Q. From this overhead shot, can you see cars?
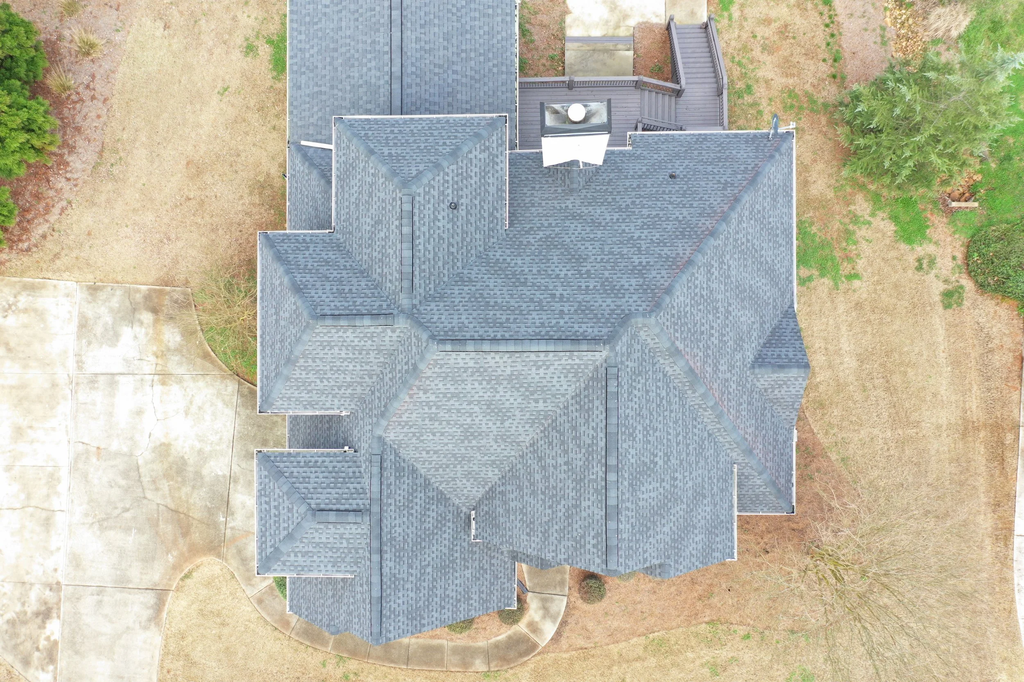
No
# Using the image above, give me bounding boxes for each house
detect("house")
[253,0,809,647]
